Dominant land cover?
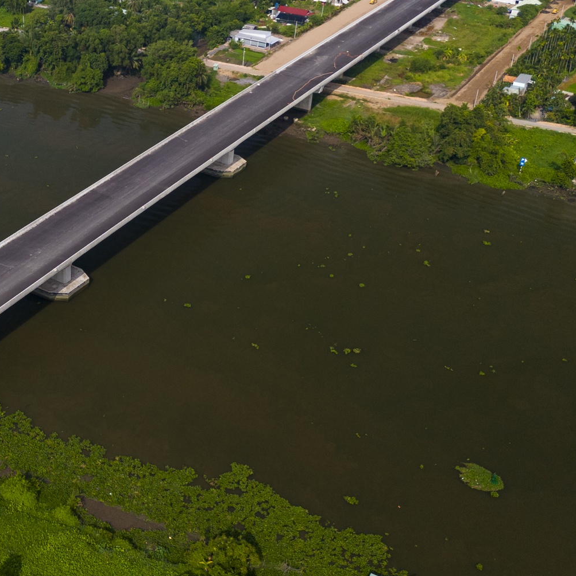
water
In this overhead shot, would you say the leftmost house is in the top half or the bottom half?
top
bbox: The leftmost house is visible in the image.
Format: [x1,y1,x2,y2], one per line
[236,23,278,47]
